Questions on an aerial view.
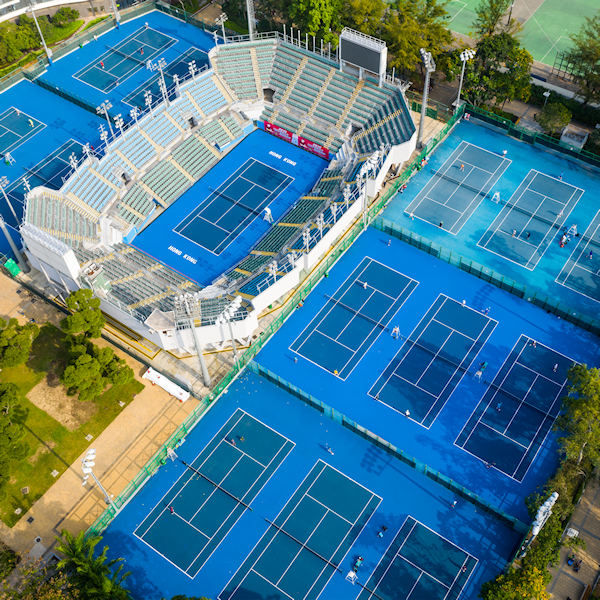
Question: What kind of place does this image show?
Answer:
sports ground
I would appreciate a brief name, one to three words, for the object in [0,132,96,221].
tennis court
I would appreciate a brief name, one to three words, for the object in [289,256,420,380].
tennis court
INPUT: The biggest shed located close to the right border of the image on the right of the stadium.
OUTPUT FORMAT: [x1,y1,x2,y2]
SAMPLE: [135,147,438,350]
[561,121,593,145]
